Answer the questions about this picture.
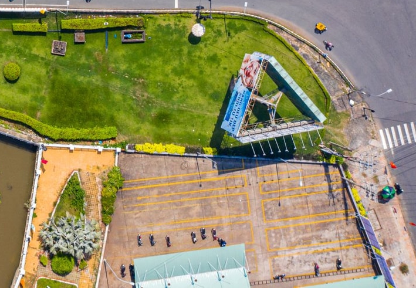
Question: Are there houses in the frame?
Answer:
No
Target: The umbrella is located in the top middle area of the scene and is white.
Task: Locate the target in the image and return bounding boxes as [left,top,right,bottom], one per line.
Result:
[190,23,206,36]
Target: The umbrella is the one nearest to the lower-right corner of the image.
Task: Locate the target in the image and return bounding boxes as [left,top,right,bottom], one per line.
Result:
[381,186,395,199]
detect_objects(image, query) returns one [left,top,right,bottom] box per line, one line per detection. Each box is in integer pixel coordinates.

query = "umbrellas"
[190,23,206,36]
[381,186,395,199]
